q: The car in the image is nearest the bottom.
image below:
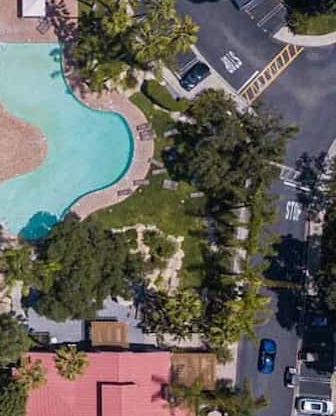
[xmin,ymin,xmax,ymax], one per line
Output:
[295,396,333,415]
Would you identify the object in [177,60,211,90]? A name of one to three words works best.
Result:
car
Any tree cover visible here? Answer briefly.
Yes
